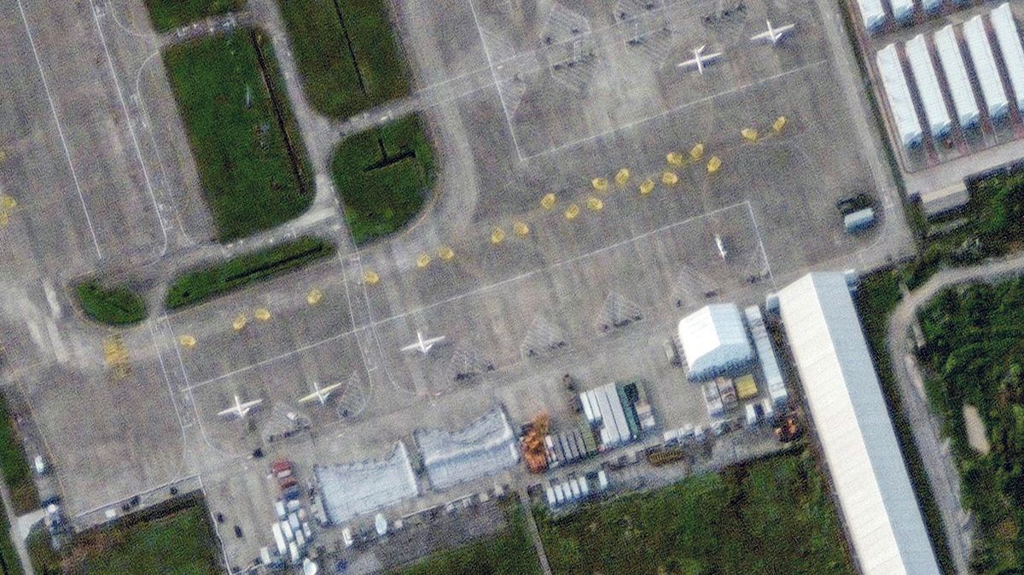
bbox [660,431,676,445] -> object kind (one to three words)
vehicle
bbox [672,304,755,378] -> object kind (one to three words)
hangar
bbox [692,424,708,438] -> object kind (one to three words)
vehicle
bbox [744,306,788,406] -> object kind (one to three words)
shed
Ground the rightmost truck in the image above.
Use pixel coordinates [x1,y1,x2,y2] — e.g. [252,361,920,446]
[839,193,875,218]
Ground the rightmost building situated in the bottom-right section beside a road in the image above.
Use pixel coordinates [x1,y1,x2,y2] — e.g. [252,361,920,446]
[777,273,940,575]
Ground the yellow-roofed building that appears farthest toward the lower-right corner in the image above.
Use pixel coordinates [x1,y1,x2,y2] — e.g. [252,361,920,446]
[734,374,759,402]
